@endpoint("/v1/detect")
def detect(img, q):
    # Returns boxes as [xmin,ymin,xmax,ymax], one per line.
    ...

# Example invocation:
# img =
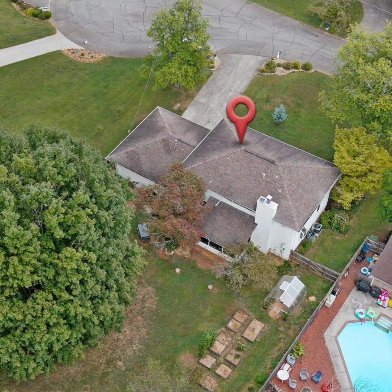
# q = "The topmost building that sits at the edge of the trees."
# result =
[104,106,344,263]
